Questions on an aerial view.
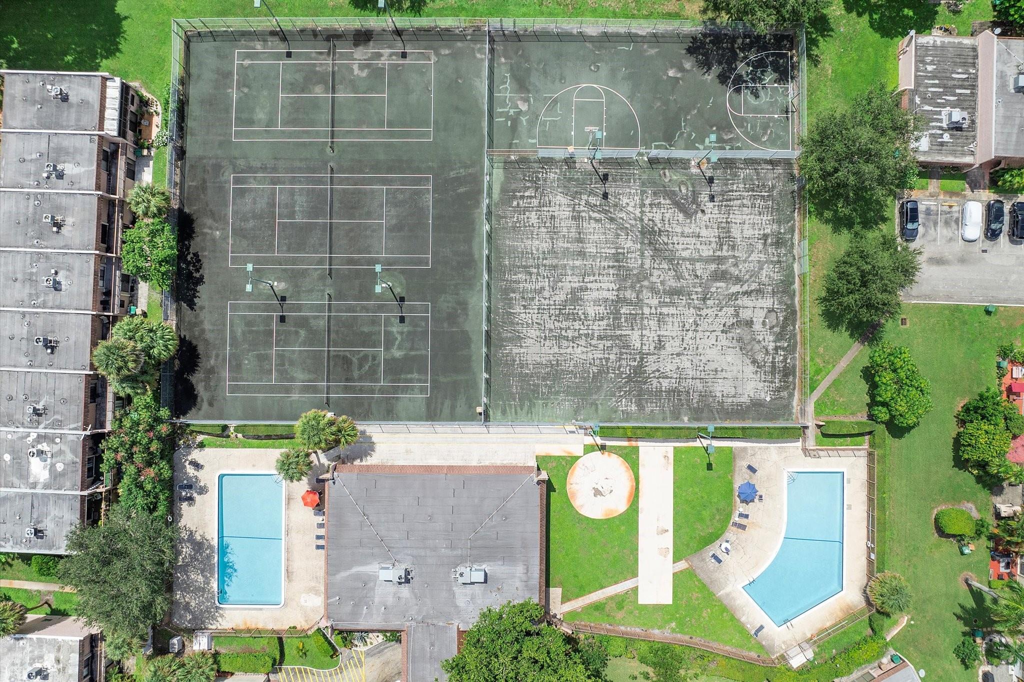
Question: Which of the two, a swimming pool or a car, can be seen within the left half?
swimming pool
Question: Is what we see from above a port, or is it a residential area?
residential area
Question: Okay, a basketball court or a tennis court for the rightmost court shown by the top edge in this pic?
basketball court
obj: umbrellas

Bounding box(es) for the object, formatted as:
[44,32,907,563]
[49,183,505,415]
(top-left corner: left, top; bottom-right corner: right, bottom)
[301,489,322,508]
[736,482,757,503]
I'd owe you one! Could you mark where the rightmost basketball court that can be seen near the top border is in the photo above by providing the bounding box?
[487,33,796,159]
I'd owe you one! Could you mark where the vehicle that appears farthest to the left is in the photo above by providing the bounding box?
[902,199,924,240]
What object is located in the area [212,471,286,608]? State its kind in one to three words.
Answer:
swimming pool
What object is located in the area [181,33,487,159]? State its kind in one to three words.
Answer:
tennis court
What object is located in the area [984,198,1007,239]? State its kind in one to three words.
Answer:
car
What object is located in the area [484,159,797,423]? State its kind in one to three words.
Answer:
sports court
